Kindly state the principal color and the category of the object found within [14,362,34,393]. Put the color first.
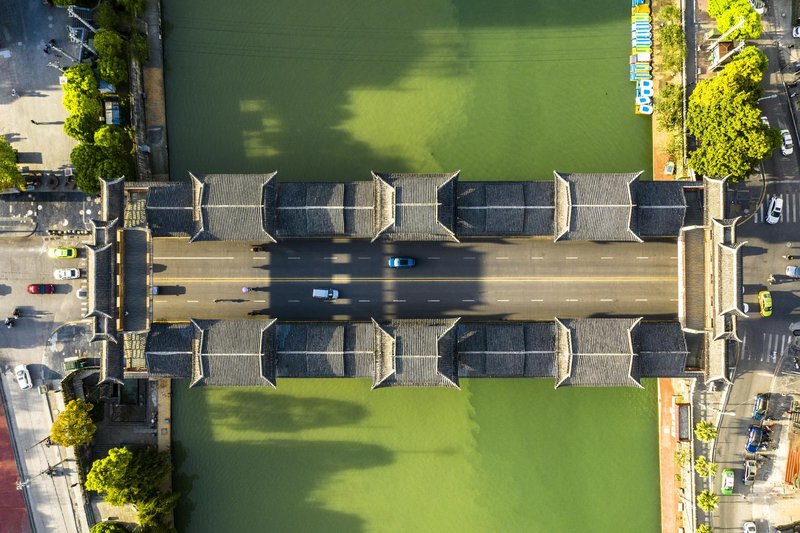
white car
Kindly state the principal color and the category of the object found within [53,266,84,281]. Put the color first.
white car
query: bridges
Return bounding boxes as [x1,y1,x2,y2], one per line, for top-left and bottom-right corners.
[127,187,702,371]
